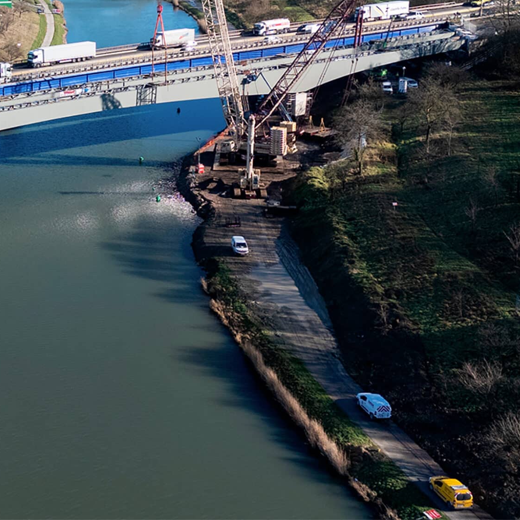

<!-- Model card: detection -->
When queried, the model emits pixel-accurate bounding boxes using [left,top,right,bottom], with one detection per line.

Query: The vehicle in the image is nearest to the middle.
[229,232,254,255]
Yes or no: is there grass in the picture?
Yes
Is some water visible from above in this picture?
Yes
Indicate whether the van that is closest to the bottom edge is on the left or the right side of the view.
right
